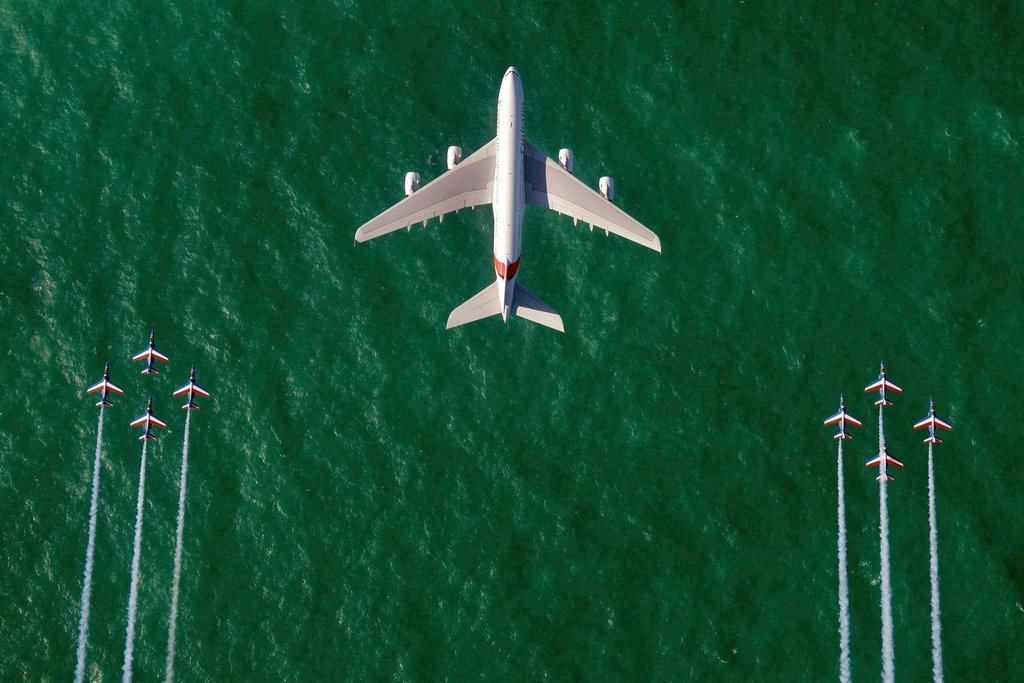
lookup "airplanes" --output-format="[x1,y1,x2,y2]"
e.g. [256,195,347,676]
[87,361,123,406]
[131,396,167,440]
[866,435,903,480]
[173,364,210,409]
[824,394,862,439]
[133,331,169,374]
[354,67,660,332]
[864,358,902,405]
[914,398,951,443]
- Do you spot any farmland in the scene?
No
